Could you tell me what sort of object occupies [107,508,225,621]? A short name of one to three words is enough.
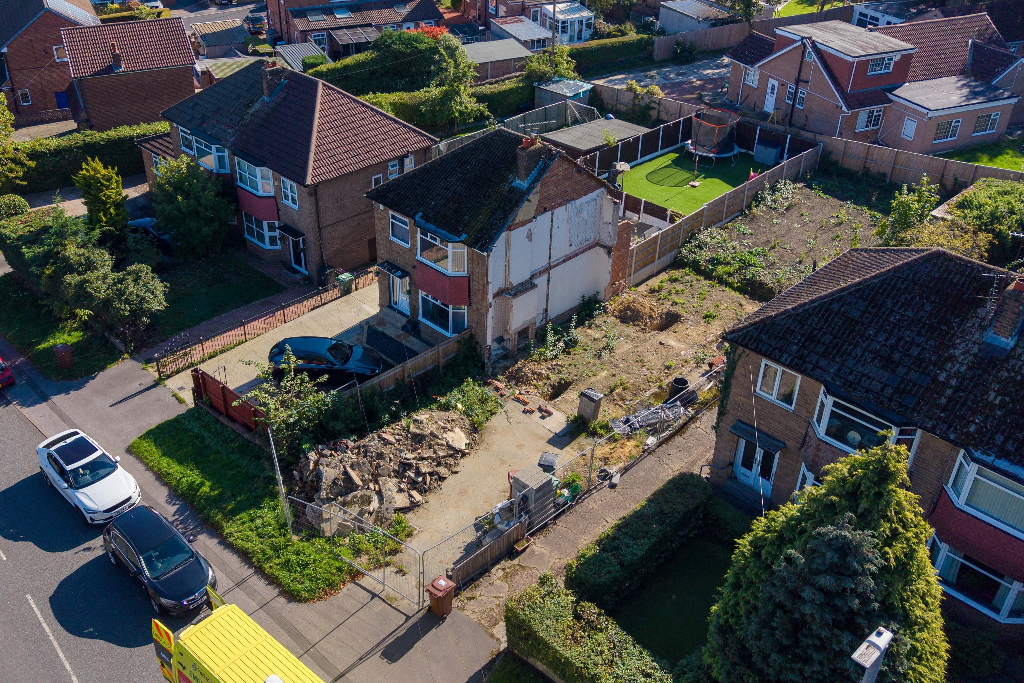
car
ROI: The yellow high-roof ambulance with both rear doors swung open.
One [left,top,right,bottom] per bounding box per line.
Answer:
[149,587,311,683]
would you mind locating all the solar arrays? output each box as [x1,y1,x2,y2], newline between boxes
[49,0,94,24]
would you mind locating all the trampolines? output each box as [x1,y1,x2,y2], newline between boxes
[686,107,742,172]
